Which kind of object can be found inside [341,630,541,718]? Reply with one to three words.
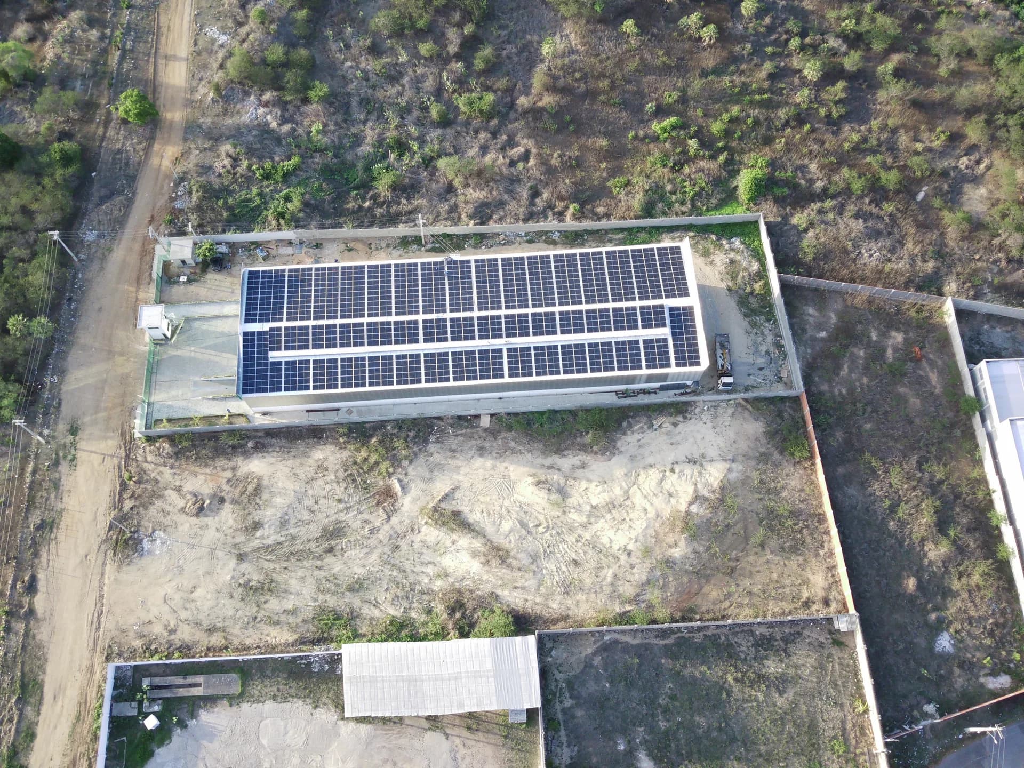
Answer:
shed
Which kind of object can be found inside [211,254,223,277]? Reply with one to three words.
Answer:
vehicle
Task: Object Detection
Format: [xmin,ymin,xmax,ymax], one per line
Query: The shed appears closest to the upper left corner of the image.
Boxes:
[169,238,197,266]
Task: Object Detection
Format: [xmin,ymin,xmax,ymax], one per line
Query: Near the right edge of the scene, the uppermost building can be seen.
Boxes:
[971,358,1024,444]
